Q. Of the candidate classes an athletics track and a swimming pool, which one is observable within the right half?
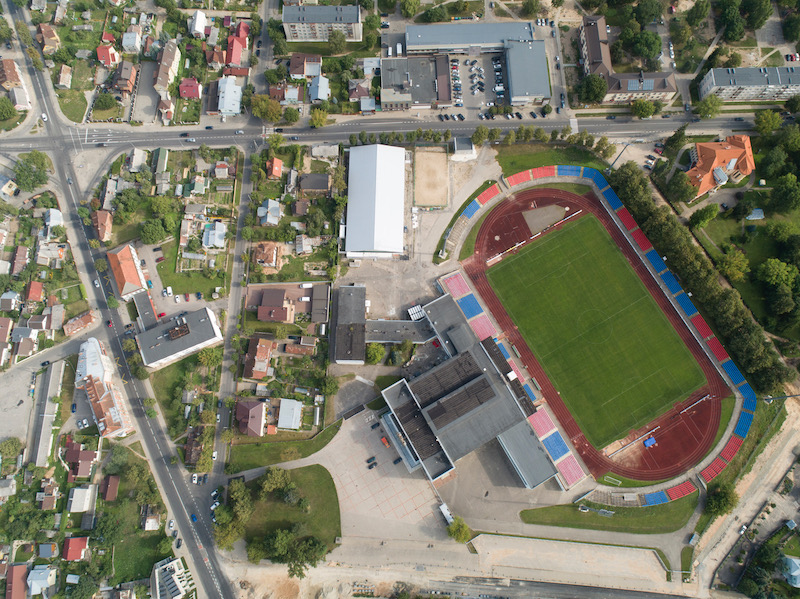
athletics track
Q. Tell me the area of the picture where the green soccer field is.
right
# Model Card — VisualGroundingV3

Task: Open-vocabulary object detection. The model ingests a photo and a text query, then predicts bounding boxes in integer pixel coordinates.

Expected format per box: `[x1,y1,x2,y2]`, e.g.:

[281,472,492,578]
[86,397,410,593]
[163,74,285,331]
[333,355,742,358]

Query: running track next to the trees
[459,188,734,482]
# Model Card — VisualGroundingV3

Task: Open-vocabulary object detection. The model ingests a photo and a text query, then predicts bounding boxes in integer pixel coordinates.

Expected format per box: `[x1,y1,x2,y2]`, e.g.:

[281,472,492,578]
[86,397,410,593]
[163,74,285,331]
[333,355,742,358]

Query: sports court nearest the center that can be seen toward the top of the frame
[415,148,448,205]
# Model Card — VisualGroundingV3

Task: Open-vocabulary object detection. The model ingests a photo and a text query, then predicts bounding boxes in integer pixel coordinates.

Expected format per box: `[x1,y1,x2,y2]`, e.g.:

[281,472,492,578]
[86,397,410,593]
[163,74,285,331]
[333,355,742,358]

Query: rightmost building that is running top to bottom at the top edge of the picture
[578,12,612,85]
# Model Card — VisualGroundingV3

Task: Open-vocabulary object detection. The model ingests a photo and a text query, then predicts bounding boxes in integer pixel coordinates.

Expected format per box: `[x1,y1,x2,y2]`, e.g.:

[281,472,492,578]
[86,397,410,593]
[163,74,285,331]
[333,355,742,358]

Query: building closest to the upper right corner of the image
[699,66,800,102]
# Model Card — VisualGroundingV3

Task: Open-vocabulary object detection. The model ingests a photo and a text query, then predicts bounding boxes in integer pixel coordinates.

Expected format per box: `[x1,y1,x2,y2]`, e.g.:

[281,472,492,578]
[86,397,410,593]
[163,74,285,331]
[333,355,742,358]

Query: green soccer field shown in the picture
[484,212,709,451]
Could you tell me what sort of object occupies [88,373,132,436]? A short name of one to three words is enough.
building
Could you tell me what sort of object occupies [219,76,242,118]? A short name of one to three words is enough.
house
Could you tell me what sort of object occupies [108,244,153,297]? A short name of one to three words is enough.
building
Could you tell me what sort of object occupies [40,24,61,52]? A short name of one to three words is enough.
house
